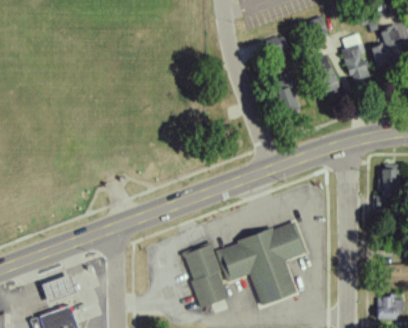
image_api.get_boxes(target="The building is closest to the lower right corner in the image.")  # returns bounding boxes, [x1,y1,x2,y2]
[376,295,406,320]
